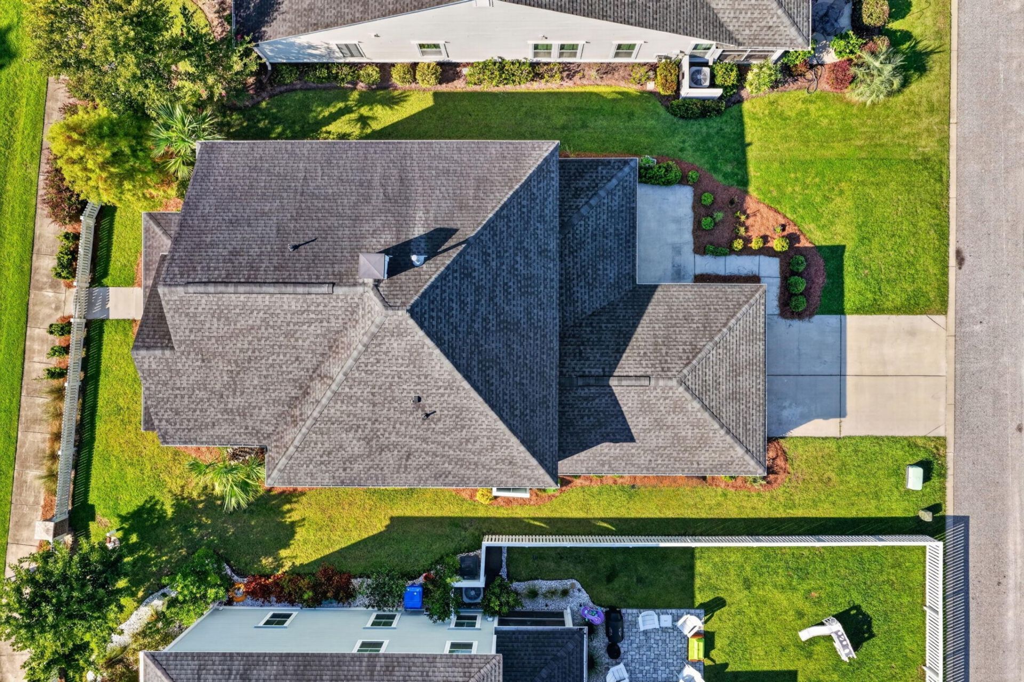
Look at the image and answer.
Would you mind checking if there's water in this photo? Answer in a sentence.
No, no water is visible.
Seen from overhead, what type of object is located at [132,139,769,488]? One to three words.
house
